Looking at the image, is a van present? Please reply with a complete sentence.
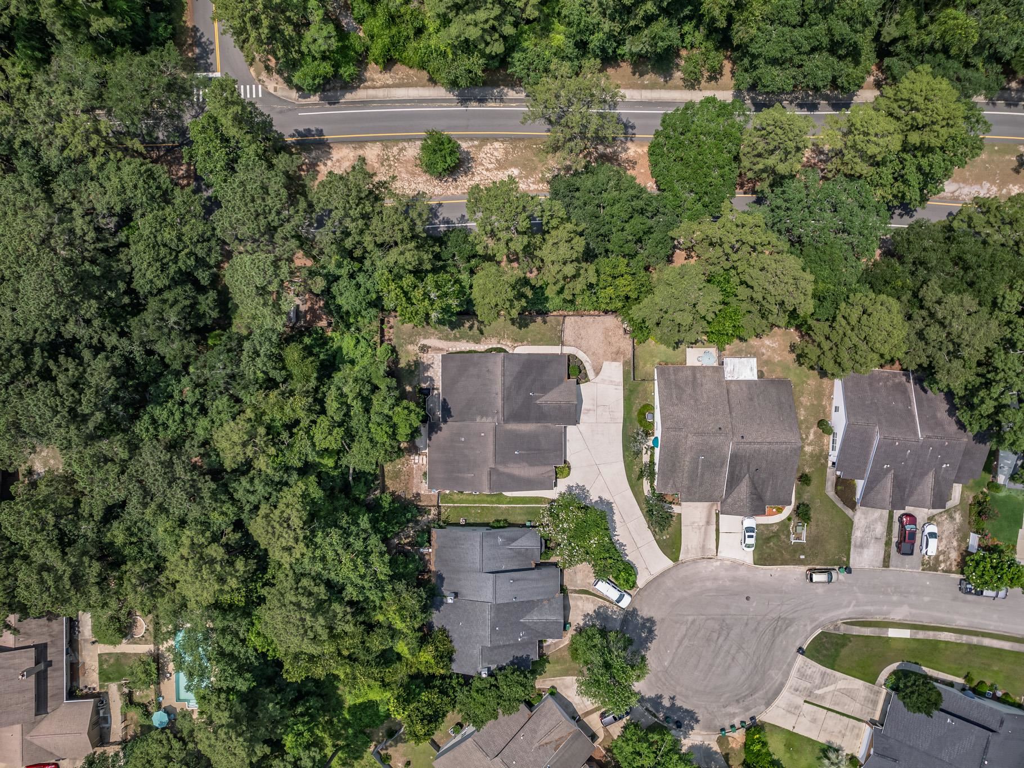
Yes, the frame does contain a van.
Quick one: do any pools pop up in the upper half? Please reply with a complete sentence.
No, in the upper half there is no pool.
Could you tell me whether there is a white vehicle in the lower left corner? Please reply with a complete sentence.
No, no white vehicle appears in the lower left corner.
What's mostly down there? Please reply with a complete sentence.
The bulk of the photo consists of trees.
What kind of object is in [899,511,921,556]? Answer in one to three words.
truck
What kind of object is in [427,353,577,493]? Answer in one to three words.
house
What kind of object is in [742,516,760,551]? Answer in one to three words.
car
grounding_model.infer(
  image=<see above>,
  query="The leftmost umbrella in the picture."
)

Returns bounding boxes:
[153,708,171,726]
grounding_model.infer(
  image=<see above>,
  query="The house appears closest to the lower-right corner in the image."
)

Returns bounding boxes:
[847,676,1024,768]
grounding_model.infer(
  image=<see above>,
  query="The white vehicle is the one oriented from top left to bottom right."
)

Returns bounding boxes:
[592,577,630,609]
